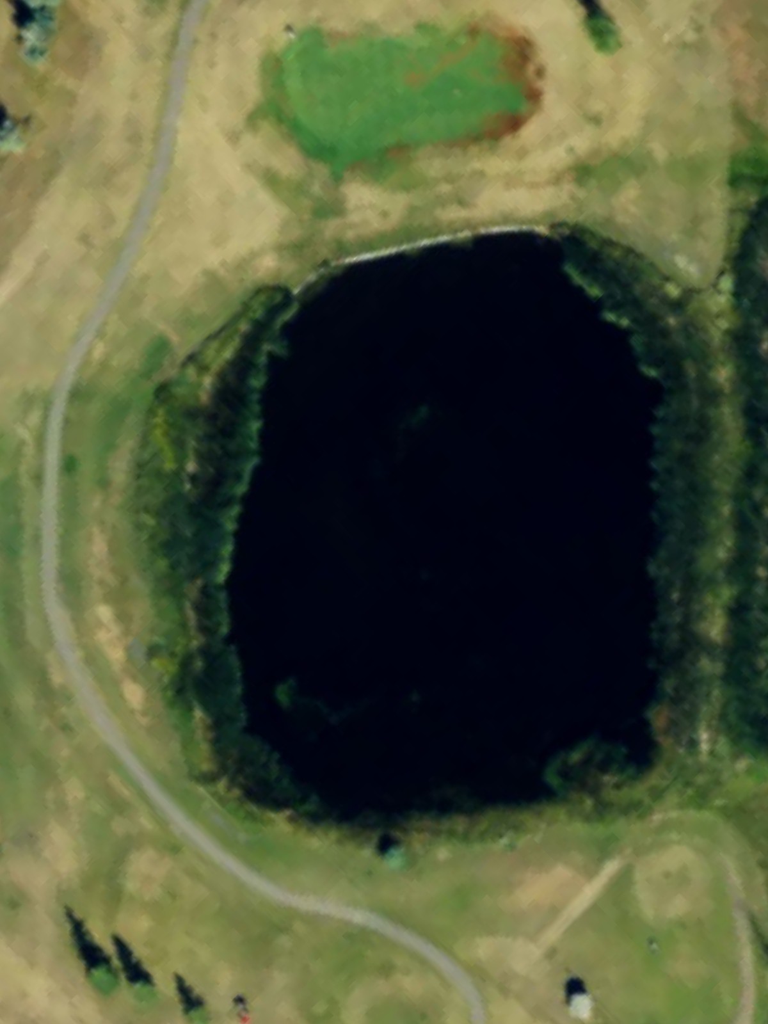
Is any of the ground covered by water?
Yes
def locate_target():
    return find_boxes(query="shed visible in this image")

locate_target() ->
[570,995,593,1022]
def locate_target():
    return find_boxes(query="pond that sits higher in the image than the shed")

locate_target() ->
[224,230,662,821]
